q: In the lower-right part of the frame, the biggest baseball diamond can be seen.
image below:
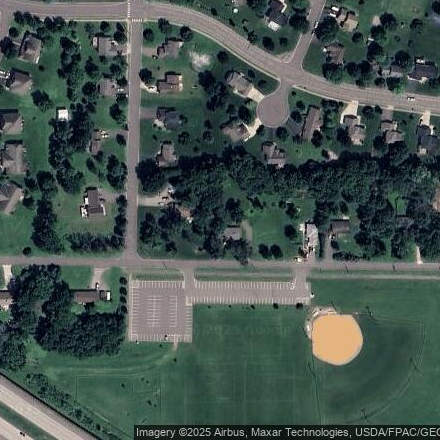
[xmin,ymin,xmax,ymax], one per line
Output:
[304,305,426,424]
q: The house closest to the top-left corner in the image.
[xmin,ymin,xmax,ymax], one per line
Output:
[17,34,41,62]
